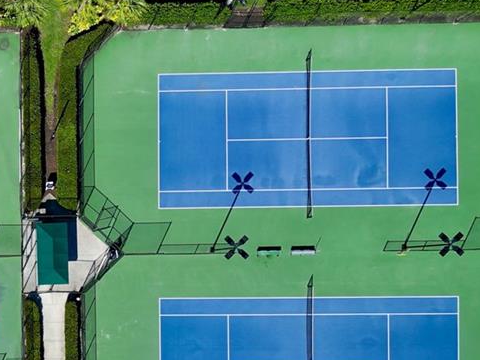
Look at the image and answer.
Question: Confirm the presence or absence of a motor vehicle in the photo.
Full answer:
No, the frame has no motor vehicle in it.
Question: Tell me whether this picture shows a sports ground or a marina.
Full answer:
This image shows a sports ground.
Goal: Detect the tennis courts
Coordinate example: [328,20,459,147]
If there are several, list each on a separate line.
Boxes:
[158,68,458,209]
[159,296,459,360]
